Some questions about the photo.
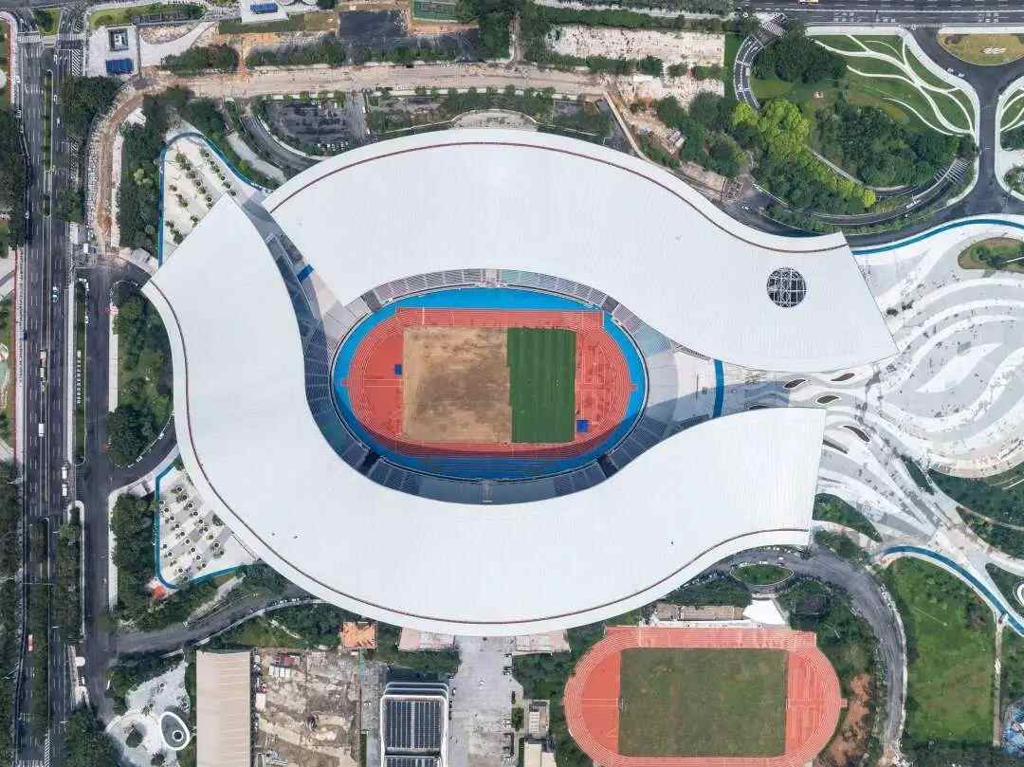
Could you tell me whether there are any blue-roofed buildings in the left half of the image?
Yes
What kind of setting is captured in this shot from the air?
sports ground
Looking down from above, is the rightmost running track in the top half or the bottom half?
bottom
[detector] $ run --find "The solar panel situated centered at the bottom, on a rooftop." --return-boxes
[387,700,441,767]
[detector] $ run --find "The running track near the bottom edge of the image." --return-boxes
[559,626,847,767]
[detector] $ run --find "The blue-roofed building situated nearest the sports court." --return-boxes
[250,3,280,17]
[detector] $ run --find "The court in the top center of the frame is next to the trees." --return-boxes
[411,0,458,23]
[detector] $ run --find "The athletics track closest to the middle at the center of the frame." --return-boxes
[335,287,647,478]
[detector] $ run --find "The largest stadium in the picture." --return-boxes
[141,129,899,637]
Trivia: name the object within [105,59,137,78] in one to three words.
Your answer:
building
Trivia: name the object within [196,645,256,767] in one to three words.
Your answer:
shed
